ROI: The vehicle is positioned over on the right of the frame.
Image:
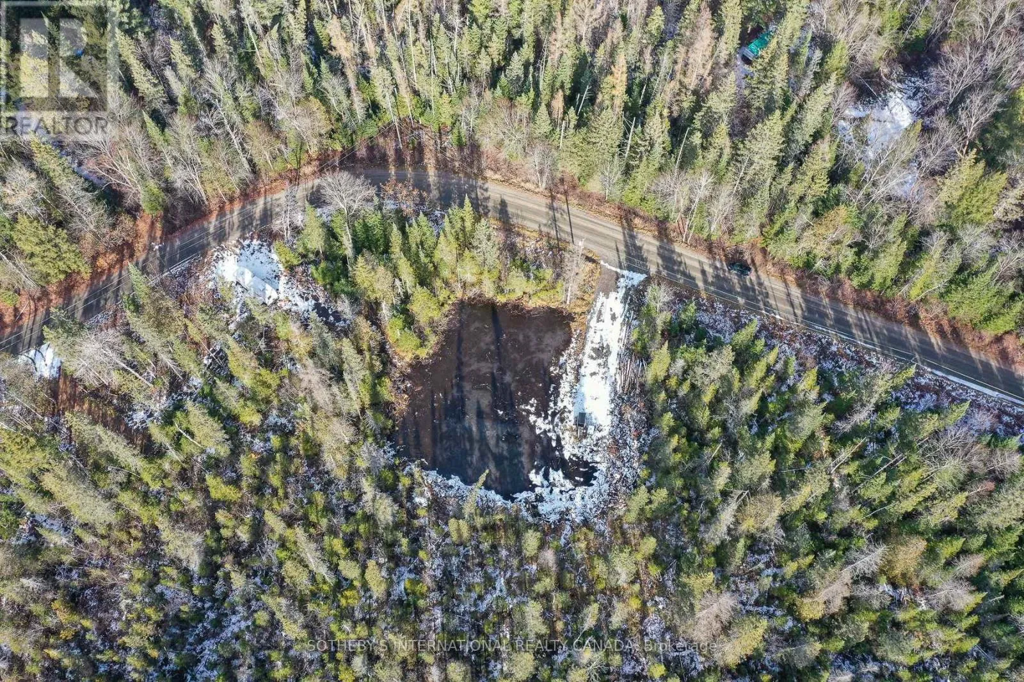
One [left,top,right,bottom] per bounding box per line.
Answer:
[726,262,755,280]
